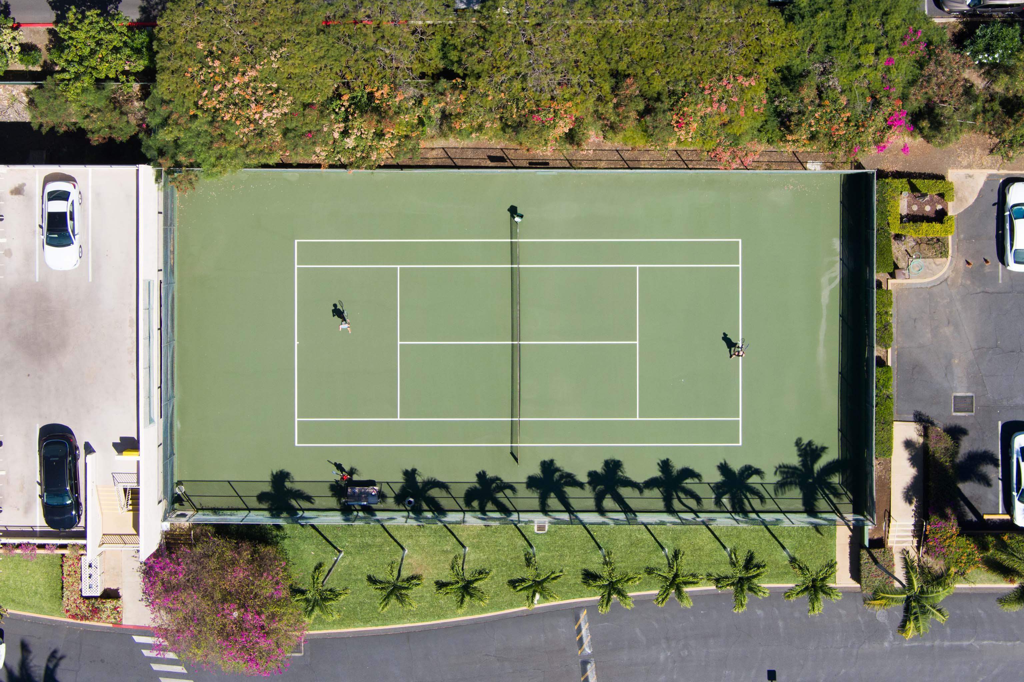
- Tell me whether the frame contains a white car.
Yes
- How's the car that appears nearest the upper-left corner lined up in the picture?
from top to bottom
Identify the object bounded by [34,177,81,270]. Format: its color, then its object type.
white car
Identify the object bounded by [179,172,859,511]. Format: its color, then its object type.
green tennis court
